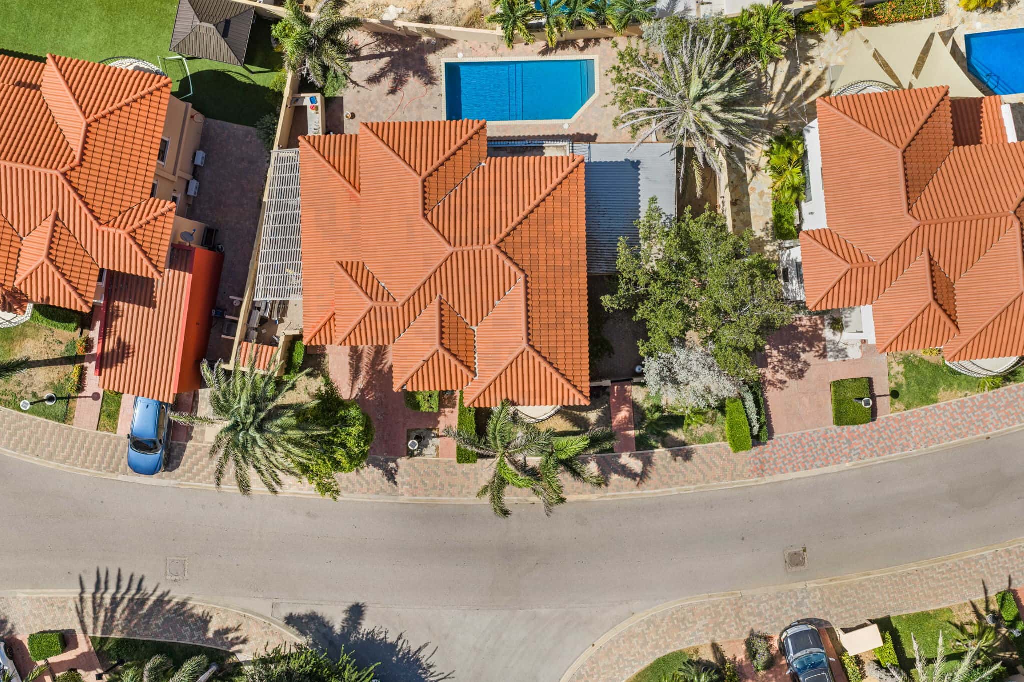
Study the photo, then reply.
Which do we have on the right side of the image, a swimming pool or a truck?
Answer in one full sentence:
What appears on the right side of the image is a swimming pool.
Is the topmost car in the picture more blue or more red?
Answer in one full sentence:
In this view, the topmost car is blue.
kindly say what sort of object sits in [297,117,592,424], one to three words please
house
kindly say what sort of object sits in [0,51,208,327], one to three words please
house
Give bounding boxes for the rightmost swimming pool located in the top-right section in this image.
[961,23,1024,99]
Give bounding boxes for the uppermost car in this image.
[122,395,173,473]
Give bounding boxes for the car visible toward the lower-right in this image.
[783,619,836,682]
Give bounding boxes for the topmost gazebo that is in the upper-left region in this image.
[169,0,266,79]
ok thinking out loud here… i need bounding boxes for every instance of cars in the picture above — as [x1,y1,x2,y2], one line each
[0,637,21,682]
[122,395,173,473]
[783,619,836,682]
